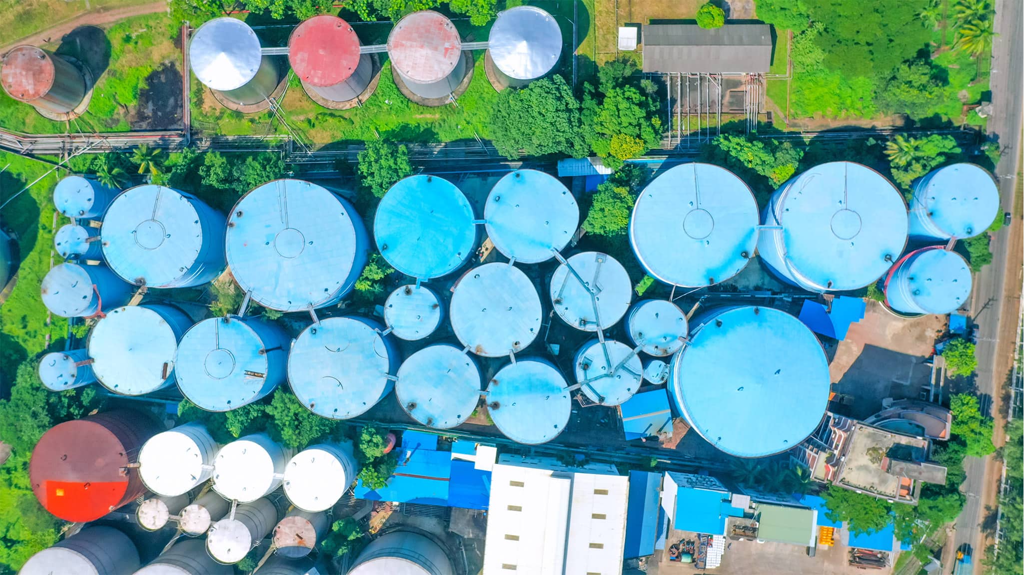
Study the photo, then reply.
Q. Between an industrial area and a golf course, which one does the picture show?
industrial area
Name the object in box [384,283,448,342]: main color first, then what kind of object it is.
blue storage tank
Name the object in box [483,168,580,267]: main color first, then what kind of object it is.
blue storage tank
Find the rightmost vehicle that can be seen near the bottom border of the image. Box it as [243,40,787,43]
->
[959,553,981,575]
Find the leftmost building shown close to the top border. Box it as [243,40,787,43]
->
[618,27,637,54]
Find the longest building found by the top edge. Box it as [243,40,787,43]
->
[640,24,773,79]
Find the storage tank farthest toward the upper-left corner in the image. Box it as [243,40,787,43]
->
[0,45,95,121]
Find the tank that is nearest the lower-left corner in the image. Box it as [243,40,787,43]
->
[16,522,140,575]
